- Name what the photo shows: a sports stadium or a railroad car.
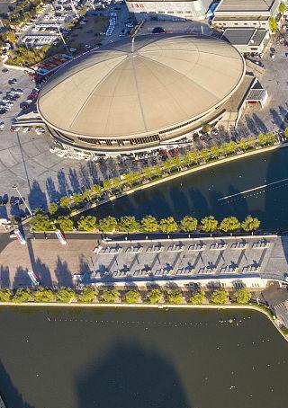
sports stadium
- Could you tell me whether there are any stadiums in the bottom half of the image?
No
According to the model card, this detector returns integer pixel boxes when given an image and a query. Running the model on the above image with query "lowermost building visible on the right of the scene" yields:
[248,75,269,105]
